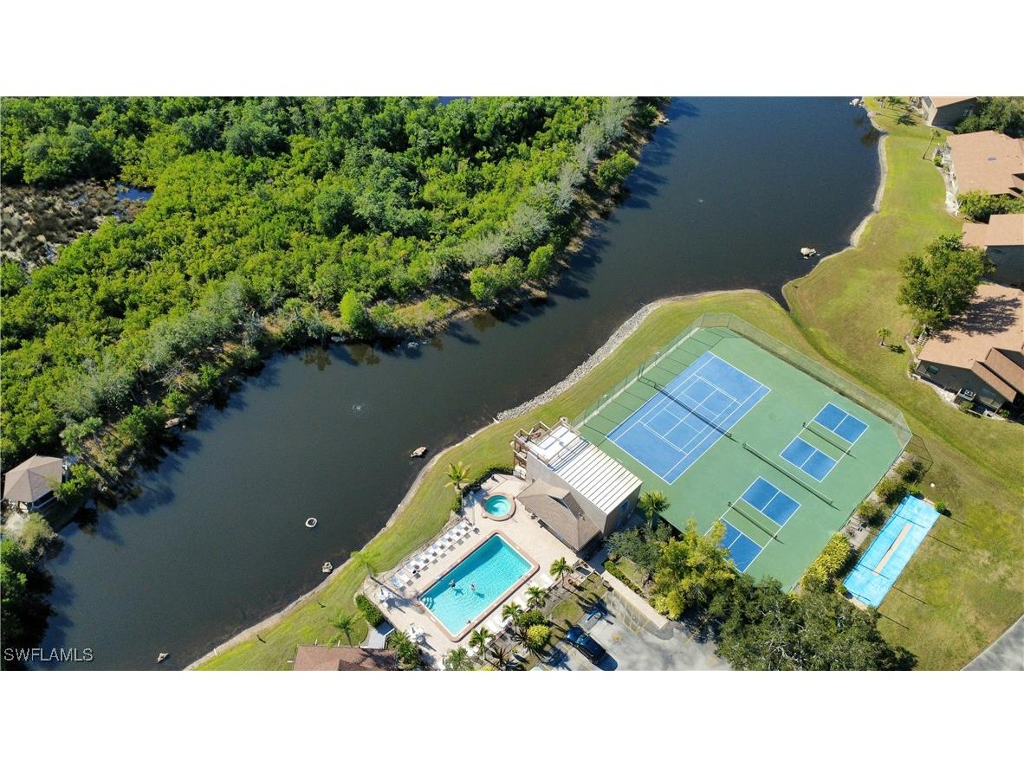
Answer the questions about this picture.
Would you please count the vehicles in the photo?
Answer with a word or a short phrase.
one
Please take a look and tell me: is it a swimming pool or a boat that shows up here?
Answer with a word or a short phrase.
swimming pool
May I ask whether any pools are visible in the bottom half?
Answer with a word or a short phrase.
Yes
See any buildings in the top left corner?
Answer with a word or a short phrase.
No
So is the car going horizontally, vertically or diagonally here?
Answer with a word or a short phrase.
diagonally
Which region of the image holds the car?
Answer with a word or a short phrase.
bottom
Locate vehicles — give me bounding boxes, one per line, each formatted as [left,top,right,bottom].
[565,627,607,667]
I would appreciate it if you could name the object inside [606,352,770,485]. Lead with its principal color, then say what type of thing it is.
blue tennis court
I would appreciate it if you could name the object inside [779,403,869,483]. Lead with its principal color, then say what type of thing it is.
blue sports court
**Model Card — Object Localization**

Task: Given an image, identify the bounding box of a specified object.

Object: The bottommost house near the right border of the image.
[914,282,1024,418]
